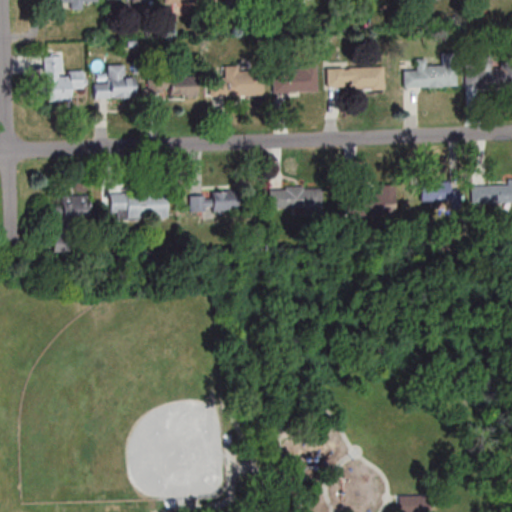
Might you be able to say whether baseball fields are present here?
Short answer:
Yes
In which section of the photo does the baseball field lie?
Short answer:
bottom left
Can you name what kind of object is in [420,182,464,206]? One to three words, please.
house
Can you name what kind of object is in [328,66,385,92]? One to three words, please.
house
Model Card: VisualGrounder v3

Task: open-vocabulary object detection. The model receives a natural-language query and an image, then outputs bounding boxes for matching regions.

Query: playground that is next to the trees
[278,429,385,512]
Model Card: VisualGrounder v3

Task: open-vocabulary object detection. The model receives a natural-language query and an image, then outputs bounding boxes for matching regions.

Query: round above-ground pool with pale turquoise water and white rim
[88,58,105,74]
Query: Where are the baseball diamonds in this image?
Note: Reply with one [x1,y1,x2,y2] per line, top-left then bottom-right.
[18,301,224,505]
